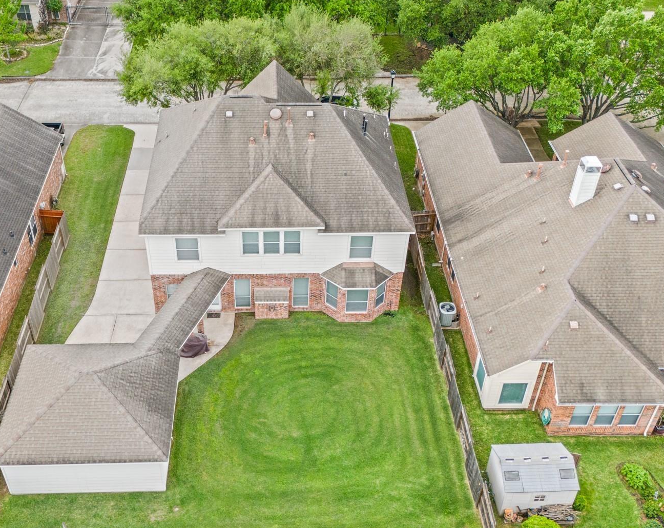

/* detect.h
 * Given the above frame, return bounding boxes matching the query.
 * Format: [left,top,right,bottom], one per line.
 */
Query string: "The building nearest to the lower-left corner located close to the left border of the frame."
[0,343,180,495]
